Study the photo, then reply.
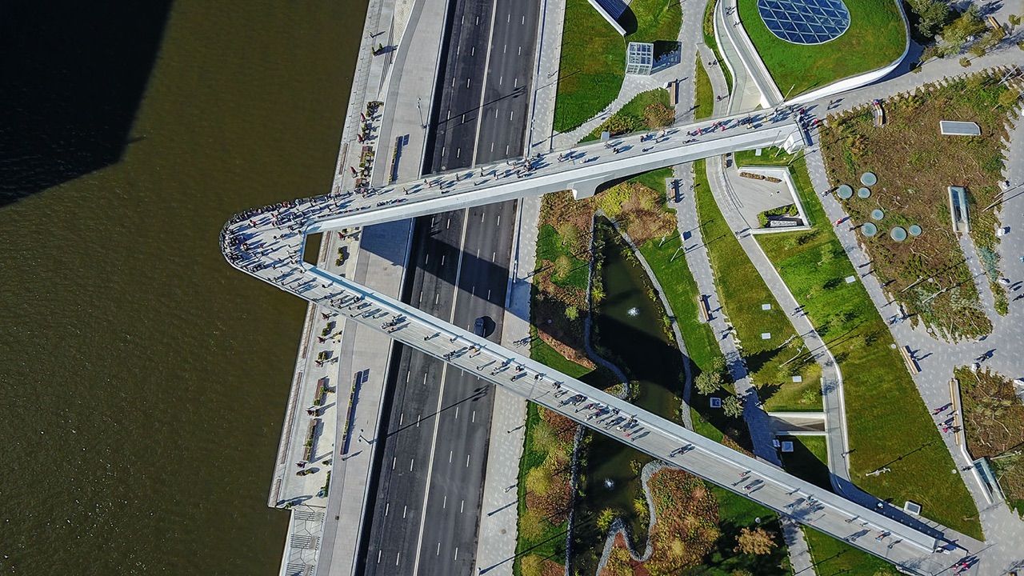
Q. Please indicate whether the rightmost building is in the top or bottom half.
top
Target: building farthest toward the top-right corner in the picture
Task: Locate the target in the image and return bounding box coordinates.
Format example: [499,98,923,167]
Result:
[737,0,910,103]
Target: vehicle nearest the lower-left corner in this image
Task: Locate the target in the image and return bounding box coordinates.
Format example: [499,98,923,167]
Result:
[476,316,488,339]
